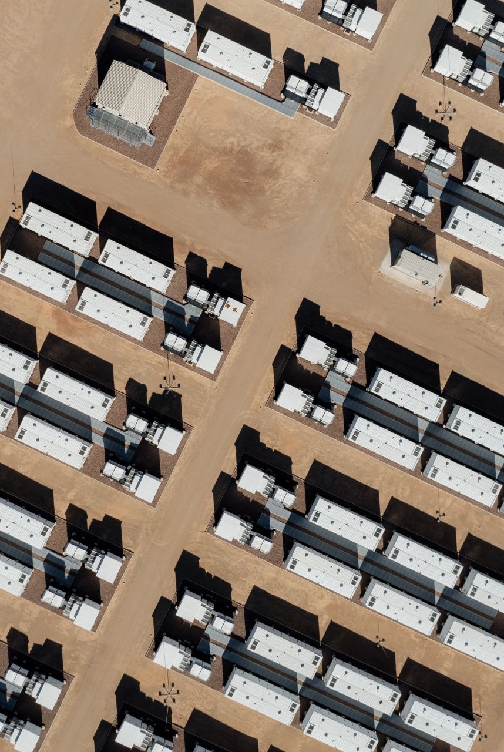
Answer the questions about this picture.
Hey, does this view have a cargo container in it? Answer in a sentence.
Yes, looking at the shot, I can spot a cargo container.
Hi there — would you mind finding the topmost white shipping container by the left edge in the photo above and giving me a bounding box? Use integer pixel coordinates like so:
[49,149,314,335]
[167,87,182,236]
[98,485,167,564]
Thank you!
[21,203,100,258]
